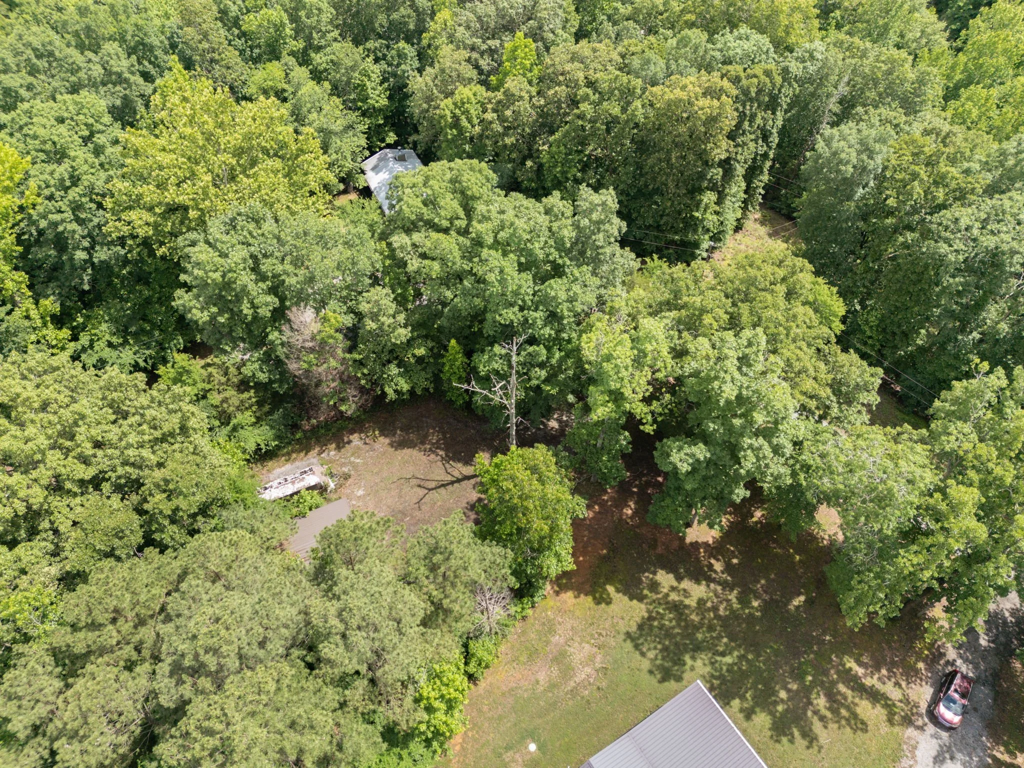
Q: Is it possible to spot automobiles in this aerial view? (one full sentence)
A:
Yes, an automobile can be made out from above.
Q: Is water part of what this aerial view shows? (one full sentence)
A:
No, no water is visible.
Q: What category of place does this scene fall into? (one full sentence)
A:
This looks like a forest.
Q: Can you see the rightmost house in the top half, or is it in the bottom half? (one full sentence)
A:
The rightmost house is in the bottom half of the image.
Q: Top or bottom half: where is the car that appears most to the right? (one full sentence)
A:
The car that appears most to the right sits in the bottom half of the picture.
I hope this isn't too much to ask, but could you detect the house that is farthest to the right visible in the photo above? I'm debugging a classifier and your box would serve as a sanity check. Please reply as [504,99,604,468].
[579,679,768,768]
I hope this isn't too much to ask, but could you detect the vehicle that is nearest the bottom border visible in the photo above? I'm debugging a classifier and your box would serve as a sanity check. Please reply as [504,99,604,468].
[929,667,974,729]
